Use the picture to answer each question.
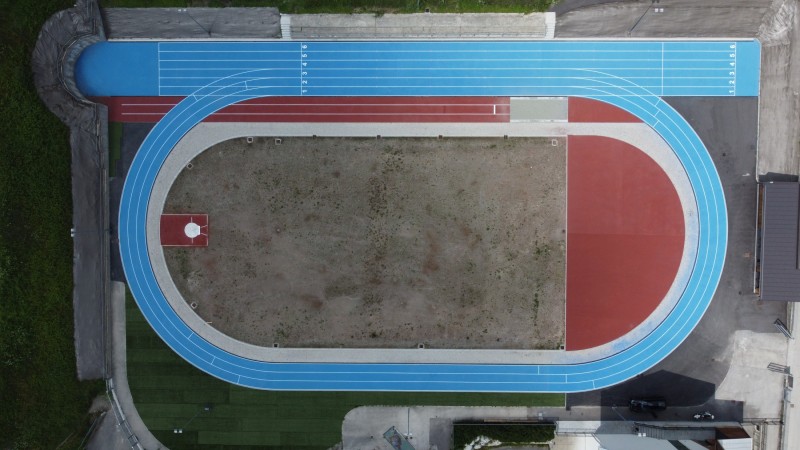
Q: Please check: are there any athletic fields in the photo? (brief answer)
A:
Yes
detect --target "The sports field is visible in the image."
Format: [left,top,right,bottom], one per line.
[161,136,568,349]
